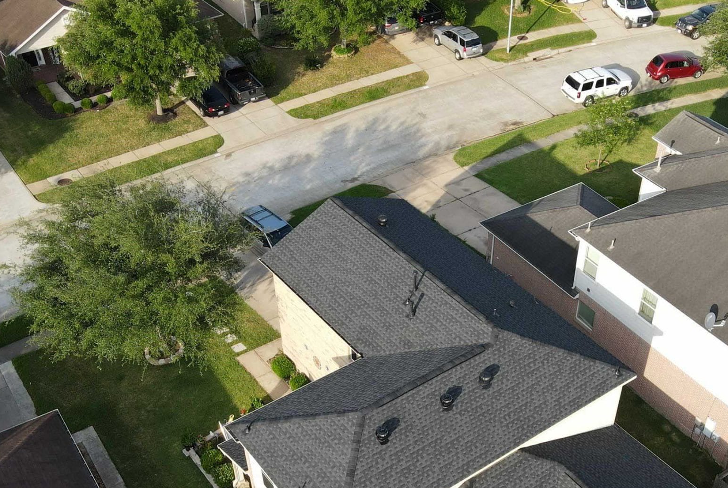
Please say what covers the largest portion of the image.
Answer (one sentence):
The scene is dominated by buildings.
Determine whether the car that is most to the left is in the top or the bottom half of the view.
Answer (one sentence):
You can find the car that is most to the left in the top half.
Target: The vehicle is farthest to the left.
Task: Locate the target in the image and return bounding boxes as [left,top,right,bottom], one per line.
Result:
[174,72,226,112]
